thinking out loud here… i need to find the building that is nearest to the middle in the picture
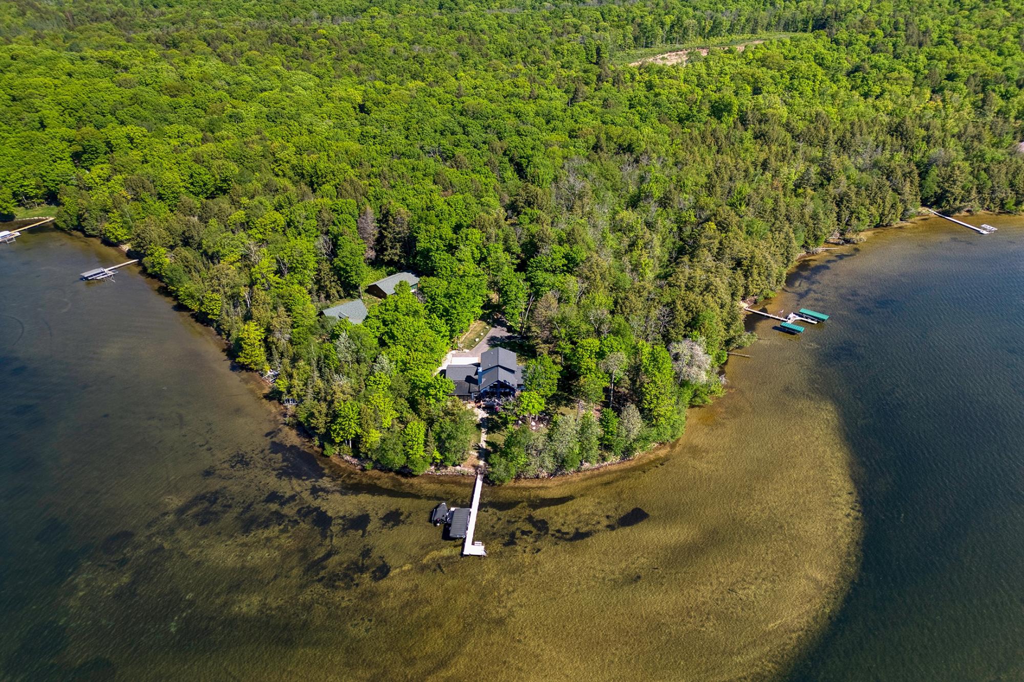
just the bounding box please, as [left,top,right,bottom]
[446,346,530,403]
